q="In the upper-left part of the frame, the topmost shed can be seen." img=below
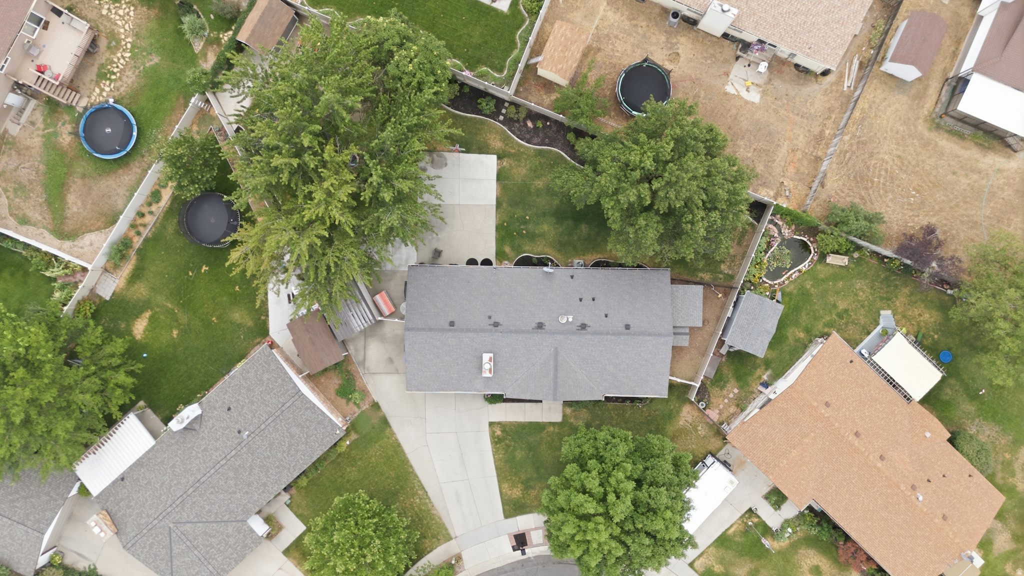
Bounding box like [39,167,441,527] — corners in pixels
[237,0,296,57]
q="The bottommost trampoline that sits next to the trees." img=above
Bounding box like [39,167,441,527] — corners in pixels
[175,192,243,247]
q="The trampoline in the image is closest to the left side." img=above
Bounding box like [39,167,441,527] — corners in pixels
[76,100,152,159]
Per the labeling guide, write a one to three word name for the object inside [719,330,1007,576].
house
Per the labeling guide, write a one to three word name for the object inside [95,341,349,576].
house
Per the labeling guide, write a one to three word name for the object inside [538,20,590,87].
shed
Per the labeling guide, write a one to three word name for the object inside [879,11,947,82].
shed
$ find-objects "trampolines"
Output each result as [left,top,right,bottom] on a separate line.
[76,100,152,159]
[617,52,673,115]
[175,192,243,247]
